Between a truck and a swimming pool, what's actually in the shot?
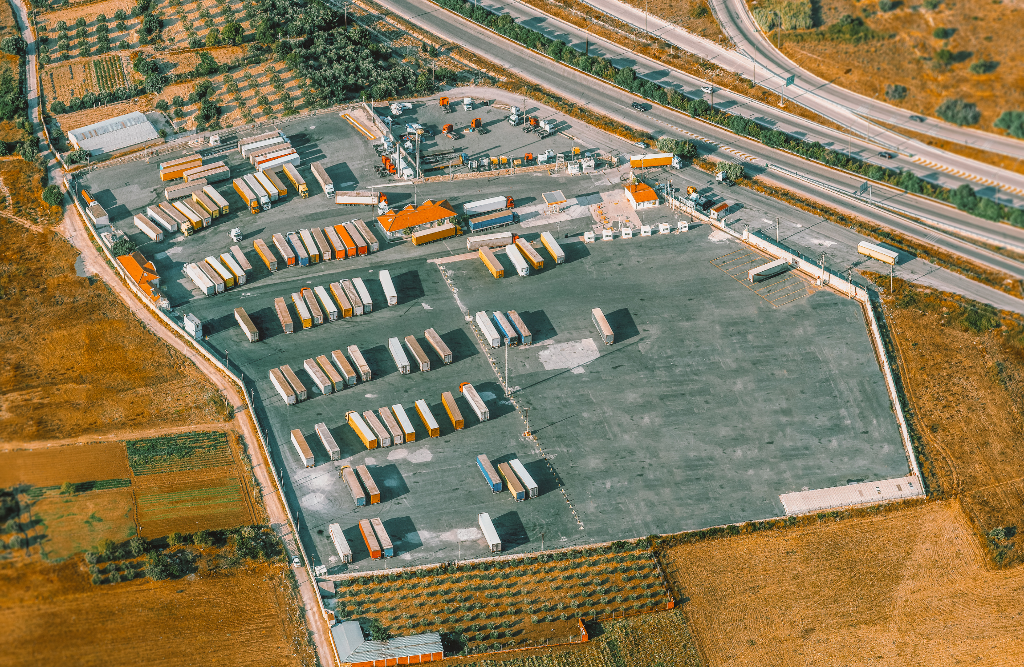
truck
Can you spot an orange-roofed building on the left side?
Yes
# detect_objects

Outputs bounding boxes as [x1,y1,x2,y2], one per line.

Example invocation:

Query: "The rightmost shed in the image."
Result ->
[780,473,925,520]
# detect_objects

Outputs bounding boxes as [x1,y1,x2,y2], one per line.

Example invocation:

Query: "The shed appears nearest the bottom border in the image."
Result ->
[329,621,444,667]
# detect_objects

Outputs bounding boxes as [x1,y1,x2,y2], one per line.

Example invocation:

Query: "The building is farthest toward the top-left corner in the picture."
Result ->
[71,112,162,166]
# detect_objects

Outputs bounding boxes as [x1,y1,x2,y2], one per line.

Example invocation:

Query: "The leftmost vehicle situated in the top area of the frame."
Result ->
[79,190,96,206]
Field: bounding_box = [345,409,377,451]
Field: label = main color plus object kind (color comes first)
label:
white truck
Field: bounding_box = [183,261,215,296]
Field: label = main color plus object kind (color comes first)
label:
white truck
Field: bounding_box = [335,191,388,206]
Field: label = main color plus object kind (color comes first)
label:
white vehicle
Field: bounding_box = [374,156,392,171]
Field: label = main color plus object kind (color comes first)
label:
red vehicle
